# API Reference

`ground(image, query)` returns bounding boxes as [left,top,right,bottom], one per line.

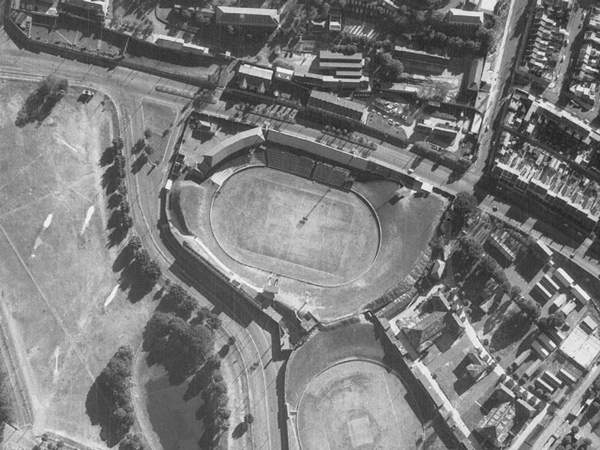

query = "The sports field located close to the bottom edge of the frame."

[286,318,458,450]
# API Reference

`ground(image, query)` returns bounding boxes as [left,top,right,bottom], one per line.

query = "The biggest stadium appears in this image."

[167,107,452,352]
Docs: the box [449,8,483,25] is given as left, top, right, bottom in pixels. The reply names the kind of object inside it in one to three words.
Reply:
house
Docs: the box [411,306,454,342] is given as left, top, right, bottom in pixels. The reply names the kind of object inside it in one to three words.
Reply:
building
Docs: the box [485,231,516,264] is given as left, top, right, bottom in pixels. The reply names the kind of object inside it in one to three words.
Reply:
house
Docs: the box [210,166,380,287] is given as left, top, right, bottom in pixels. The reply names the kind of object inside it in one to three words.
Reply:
sports field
